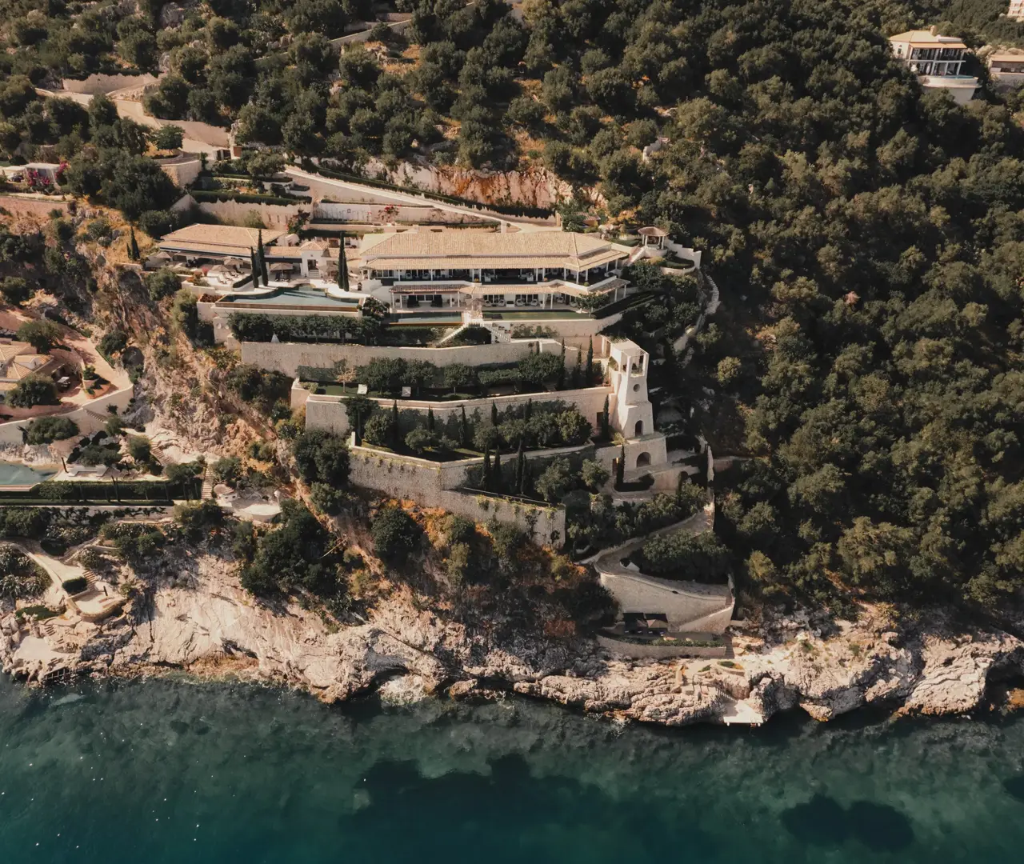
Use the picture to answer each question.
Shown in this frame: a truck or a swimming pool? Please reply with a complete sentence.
The one in the frame is a swimming pool.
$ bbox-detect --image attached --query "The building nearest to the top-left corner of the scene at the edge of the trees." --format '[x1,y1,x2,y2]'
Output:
[0,165,68,194]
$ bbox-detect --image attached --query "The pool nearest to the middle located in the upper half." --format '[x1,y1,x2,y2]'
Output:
[394,313,464,337]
